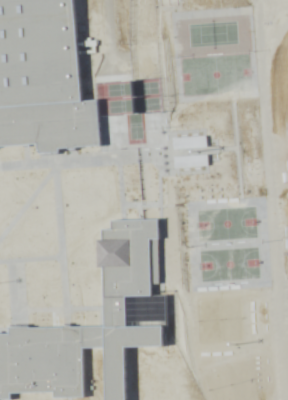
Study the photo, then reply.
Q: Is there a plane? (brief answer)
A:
No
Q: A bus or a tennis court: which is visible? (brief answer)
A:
tennis court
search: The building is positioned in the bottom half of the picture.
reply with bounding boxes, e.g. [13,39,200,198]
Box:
[0,219,164,400]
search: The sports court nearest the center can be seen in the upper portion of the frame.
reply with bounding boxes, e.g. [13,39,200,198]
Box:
[128,114,146,145]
